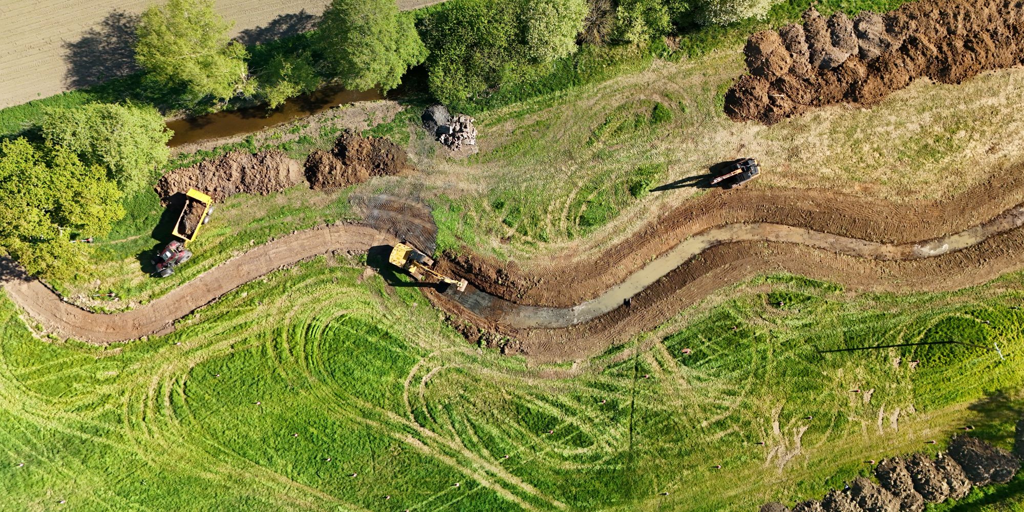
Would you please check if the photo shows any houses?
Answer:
No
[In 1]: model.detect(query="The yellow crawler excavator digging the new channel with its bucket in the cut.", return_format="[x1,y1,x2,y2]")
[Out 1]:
[388,238,468,293]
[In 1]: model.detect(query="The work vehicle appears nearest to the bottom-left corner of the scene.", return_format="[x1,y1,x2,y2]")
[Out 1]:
[146,236,191,279]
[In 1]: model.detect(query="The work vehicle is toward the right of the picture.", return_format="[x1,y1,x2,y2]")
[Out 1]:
[710,153,770,190]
